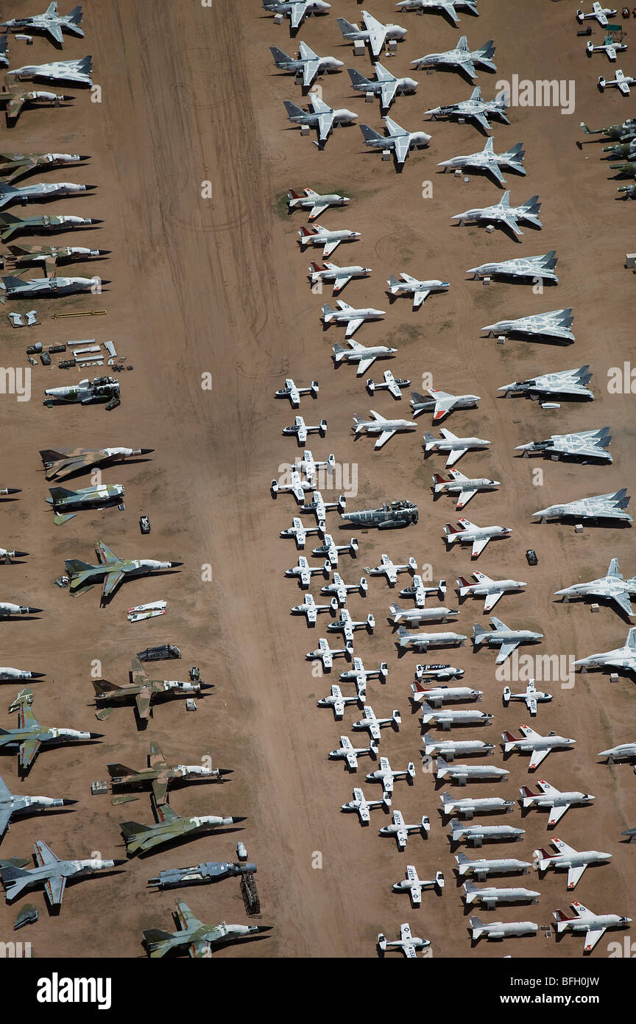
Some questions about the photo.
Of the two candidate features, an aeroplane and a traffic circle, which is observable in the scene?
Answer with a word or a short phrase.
aeroplane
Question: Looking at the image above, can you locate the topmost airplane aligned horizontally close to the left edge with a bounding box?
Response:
[0,6,85,44]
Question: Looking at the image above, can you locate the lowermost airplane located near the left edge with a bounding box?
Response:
[0,837,127,902]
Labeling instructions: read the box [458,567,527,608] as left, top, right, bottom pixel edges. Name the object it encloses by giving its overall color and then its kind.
white airplane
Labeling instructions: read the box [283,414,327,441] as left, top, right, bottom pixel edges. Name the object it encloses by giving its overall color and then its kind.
white airplane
